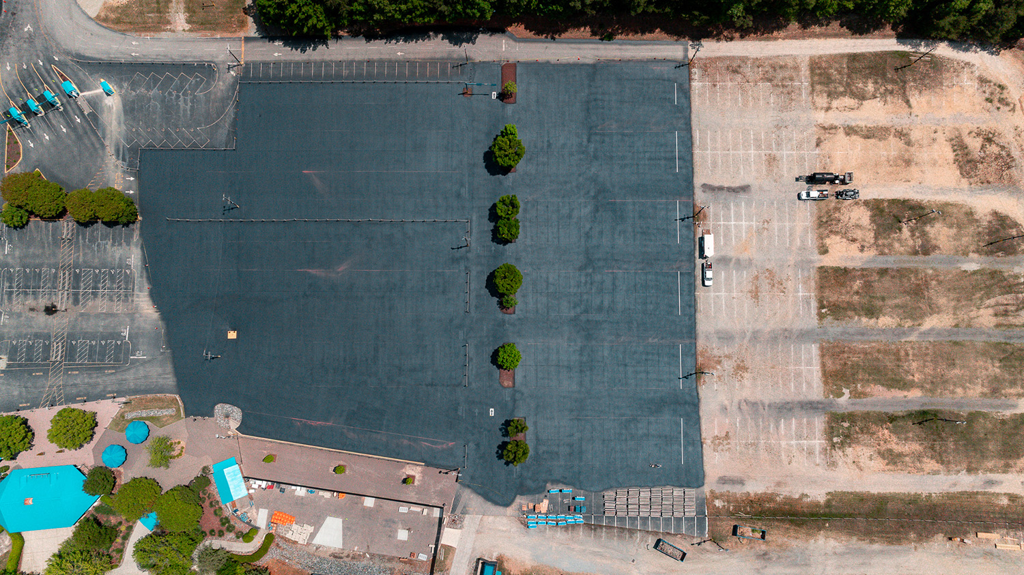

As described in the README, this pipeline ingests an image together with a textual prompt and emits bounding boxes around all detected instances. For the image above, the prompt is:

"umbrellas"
[126,420,150,444]
[102,443,128,468]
